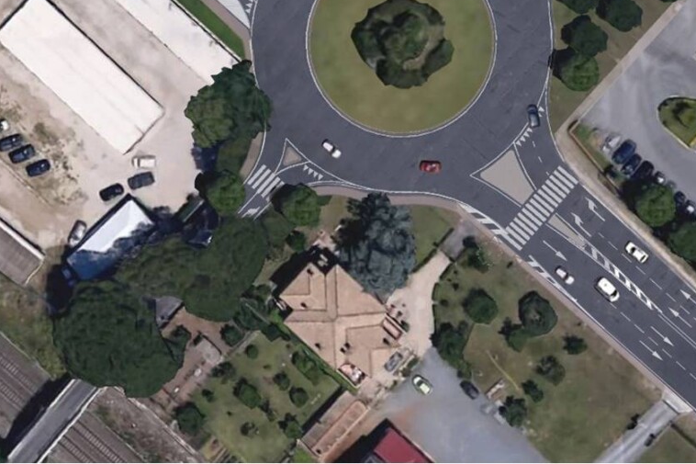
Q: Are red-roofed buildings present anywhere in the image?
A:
Yes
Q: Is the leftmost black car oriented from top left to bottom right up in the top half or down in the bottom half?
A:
bottom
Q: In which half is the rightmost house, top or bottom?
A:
bottom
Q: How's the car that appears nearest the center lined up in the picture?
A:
on a diagonal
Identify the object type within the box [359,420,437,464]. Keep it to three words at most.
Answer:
house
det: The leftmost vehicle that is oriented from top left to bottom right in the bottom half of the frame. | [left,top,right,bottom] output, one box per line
[411,374,432,394]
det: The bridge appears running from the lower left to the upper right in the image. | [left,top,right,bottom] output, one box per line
[2,382,99,464]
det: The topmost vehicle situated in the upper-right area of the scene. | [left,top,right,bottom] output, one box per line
[527,104,540,128]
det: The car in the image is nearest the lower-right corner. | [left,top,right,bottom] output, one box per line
[595,275,621,303]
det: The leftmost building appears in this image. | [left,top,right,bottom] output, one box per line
[0,220,44,286]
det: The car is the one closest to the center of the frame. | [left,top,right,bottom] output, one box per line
[321,139,342,159]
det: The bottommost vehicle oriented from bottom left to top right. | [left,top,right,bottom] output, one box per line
[383,349,404,372]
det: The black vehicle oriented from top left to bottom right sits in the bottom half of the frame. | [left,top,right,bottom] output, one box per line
[458,379,480,400]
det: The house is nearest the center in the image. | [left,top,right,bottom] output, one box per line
[279,263,401,390]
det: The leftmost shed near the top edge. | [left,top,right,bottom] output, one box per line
[0,0,165,154]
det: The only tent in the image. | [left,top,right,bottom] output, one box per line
[65,198,157,282]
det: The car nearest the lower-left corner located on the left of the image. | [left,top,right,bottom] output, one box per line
[69,220,87,244]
